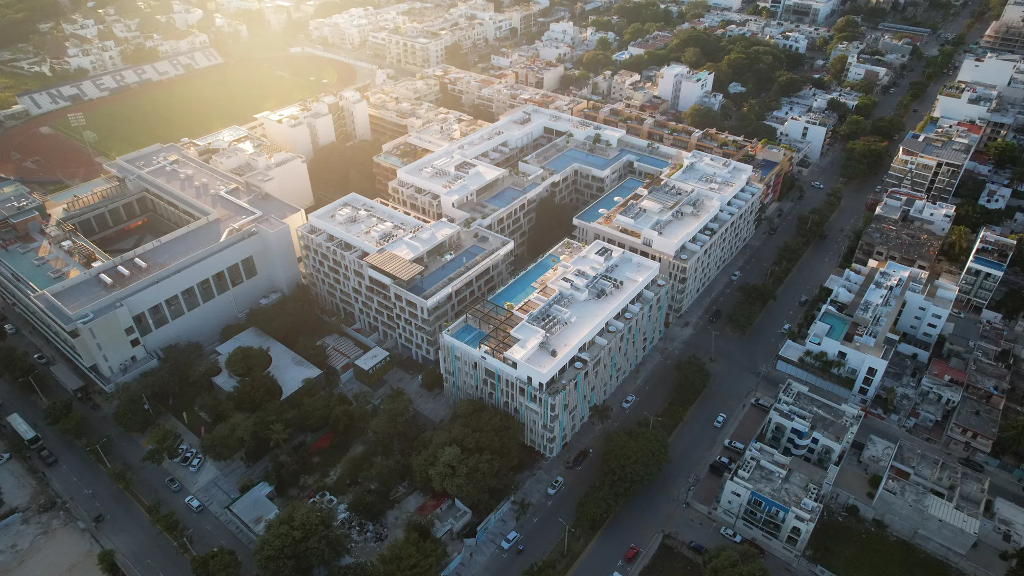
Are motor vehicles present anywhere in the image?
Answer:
Yes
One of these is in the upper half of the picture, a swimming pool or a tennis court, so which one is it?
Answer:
swimming pool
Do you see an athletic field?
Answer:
Yes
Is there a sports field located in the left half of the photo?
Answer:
Yes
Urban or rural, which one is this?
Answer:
urban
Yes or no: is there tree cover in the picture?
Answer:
Yes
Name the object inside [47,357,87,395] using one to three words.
truck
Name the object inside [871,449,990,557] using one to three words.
house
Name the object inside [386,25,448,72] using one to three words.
building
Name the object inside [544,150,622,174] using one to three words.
swimming pool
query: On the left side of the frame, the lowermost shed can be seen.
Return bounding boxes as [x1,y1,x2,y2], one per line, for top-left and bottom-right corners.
[229,482,280,542]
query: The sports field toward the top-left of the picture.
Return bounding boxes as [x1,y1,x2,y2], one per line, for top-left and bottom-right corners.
[46,62,346,162]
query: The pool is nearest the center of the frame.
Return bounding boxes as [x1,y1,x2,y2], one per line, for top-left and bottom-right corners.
[492,255,560,306]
